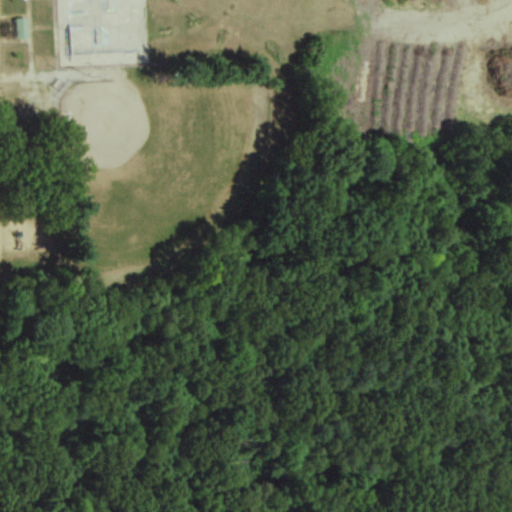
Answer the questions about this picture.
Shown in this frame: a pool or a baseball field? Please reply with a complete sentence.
Looking from above, you can make out a baseball field.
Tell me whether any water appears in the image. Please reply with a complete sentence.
No, there's no water in this view.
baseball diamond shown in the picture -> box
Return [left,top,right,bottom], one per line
[60,80,292,296]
